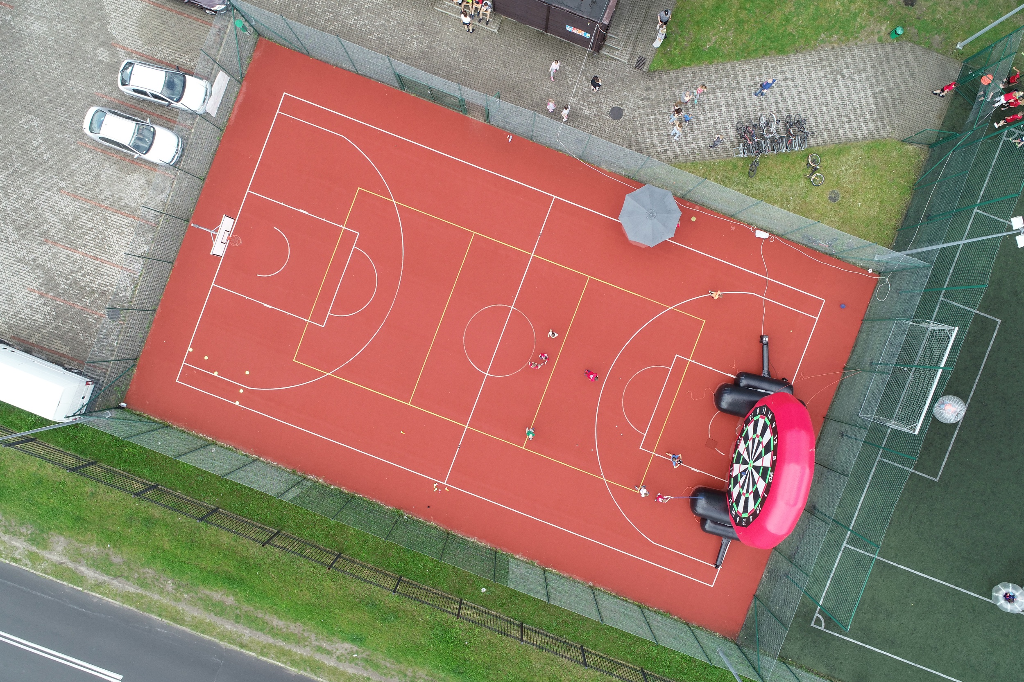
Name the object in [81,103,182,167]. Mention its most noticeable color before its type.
white car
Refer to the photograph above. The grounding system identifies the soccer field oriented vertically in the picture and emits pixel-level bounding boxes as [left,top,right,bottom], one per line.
[735,0,1024,682]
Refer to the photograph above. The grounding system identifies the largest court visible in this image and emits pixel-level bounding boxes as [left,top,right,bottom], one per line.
[122,36,880,640]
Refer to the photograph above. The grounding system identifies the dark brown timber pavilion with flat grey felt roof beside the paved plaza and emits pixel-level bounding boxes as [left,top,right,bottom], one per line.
[493,0,620,54]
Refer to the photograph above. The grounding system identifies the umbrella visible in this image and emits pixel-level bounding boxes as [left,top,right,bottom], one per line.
[618,184,682,248]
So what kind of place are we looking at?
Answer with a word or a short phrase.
sports ground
